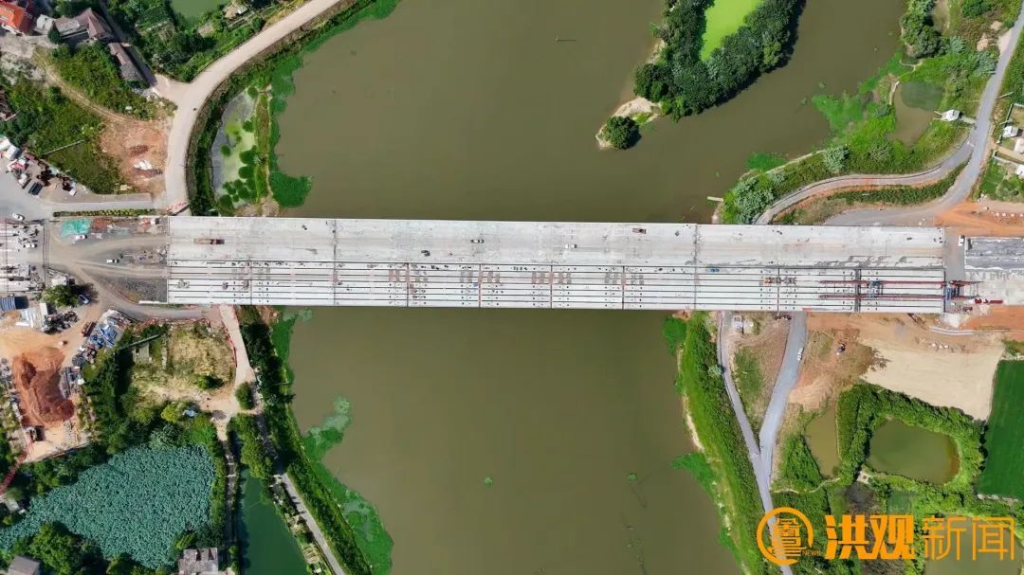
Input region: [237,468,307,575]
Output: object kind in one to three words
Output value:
pond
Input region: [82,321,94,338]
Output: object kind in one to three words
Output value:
vehicle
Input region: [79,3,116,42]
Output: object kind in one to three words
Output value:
house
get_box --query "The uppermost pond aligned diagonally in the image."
[702,0,760,59]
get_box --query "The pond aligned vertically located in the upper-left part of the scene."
[212,89,258,207]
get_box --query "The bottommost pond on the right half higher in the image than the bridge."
[890,77,944,145]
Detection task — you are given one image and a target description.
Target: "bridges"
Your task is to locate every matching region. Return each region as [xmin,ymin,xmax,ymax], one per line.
[164,216,948,314]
